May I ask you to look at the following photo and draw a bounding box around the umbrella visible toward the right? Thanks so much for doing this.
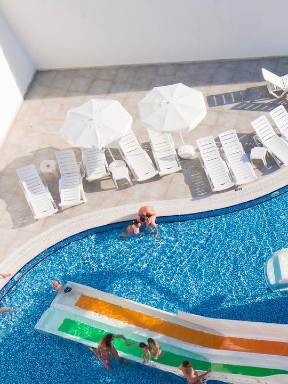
[142,88,209,162]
